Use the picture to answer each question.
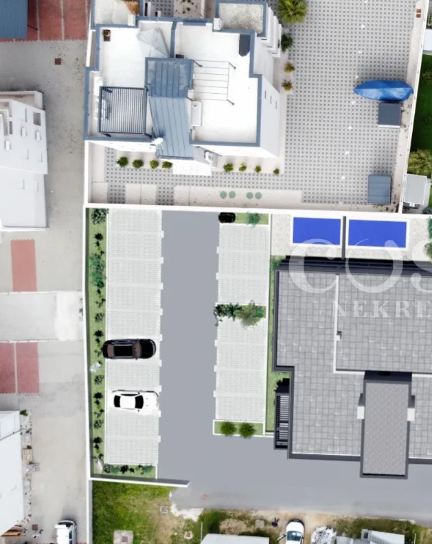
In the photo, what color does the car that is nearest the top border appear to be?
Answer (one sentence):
The color of the car that is nearest the top border is black.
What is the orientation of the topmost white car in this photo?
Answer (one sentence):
Seen from above, the topmost white car lies from left to right.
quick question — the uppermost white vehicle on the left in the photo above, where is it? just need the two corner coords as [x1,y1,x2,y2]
[111,389,162,414]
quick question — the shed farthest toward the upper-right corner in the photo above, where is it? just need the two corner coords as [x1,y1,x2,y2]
[378,103,401,131]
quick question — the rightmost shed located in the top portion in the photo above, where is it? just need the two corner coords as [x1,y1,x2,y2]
[404,176,427,205]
